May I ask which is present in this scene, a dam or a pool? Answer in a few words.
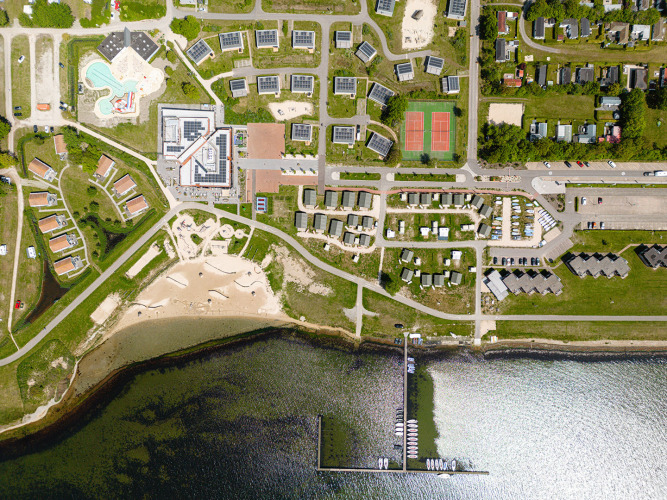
pool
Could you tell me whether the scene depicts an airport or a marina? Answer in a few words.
marina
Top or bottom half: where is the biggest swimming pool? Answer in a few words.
top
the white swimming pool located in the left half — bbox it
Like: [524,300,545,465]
[81,49,165,118]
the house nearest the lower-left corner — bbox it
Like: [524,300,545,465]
[54,255,87,275]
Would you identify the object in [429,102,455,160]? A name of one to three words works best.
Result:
tennis court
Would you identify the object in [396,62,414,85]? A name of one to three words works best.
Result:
house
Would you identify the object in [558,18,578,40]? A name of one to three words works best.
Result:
house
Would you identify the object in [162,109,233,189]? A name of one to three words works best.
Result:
building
